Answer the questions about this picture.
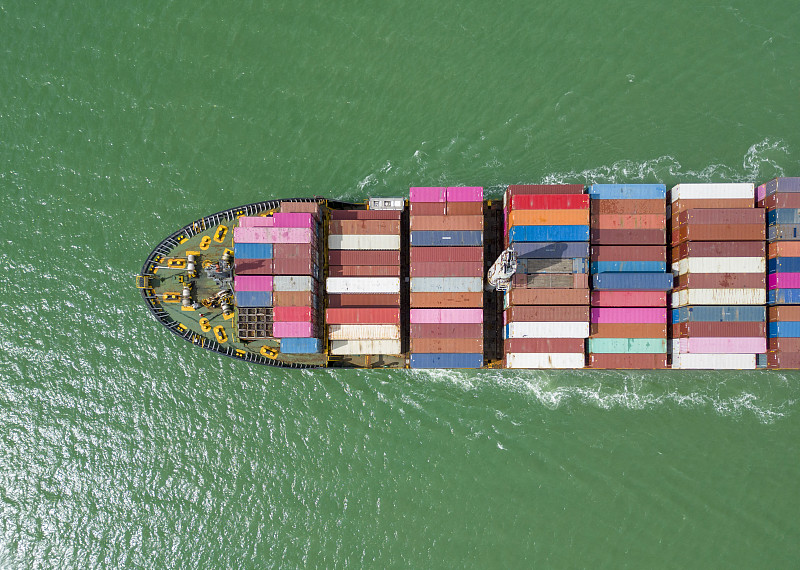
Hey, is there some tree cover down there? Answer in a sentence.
No, there is no tree cover in the image.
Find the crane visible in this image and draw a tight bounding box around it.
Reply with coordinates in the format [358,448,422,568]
[483,248,519,298]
